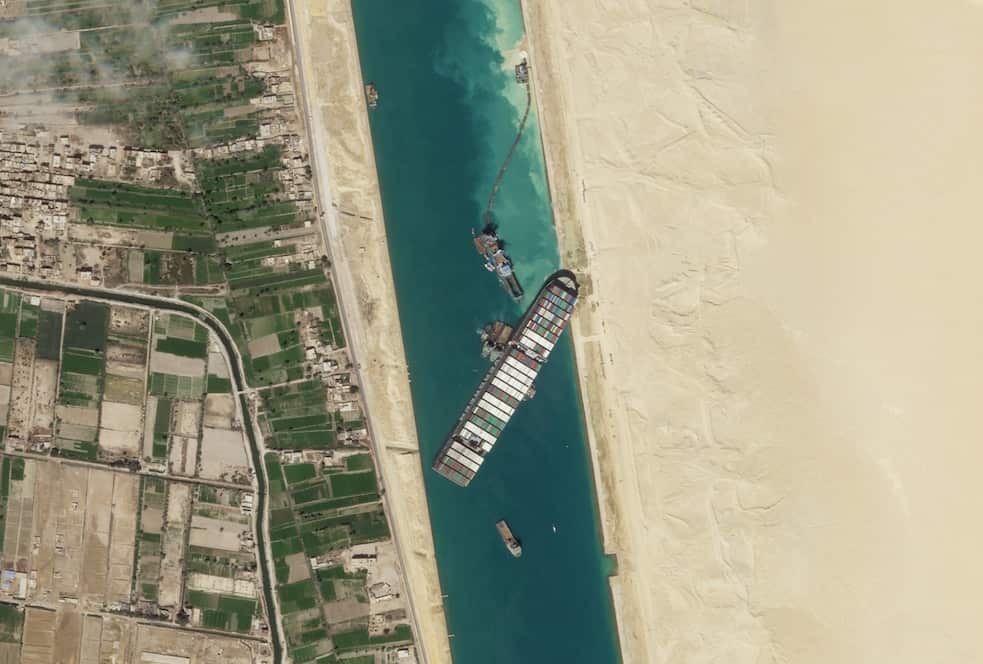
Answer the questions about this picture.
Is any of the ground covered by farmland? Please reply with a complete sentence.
Yes, farmland shows up in the scene.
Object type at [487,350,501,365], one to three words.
boat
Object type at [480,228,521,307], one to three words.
ship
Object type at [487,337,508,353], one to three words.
ship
